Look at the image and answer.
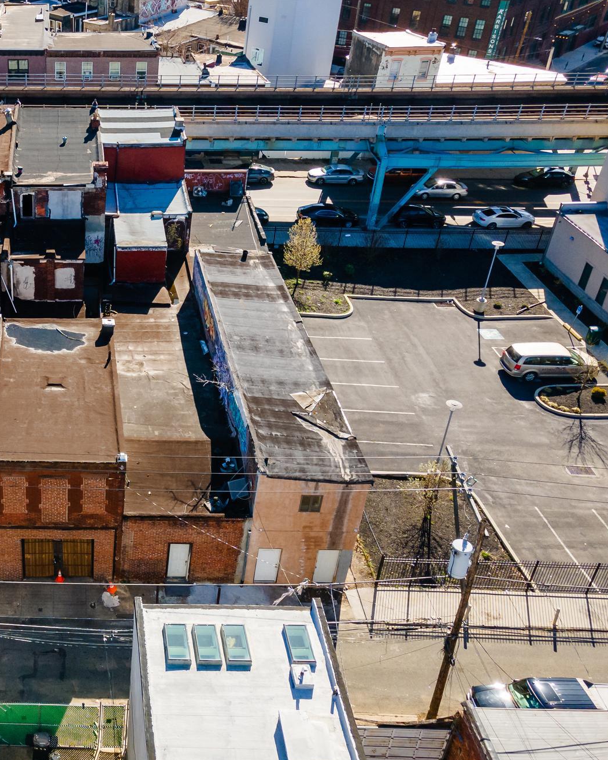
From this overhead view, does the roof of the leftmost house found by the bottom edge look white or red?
white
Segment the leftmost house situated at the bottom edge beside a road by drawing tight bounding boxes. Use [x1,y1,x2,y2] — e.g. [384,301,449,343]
[126,596,371,760]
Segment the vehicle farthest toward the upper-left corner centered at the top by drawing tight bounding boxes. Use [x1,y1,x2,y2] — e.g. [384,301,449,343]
[216,159,275,184]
